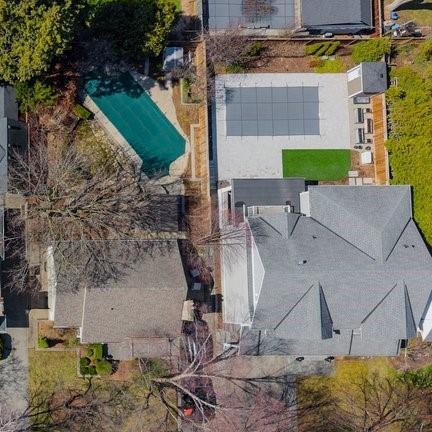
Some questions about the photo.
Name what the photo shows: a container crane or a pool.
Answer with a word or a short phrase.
pool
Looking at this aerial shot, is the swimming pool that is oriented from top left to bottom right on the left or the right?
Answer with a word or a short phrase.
left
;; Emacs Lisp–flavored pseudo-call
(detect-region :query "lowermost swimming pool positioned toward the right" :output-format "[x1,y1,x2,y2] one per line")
[223,82,324,140]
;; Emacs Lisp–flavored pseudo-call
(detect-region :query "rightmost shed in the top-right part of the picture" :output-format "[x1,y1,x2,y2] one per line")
[348,62,386,97]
